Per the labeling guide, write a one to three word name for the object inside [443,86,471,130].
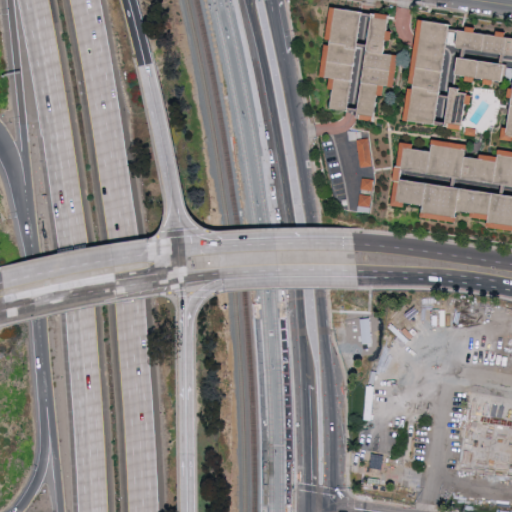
building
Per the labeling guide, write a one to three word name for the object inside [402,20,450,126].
building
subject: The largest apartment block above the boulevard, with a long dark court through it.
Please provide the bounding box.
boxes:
[390,140,512,232]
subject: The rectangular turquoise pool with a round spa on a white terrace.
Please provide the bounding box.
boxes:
[462,88,502,132]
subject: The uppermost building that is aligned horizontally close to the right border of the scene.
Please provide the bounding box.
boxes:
[454,26,512,60]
